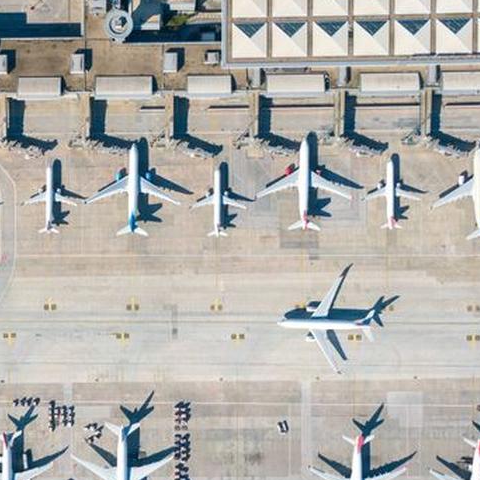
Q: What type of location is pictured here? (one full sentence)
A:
This looks like an airport.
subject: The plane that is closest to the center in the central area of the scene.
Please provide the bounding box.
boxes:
[189,168,246,236]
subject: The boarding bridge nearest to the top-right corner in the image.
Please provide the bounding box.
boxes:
[421,140,474,166]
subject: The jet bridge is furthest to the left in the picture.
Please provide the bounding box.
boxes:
[0,142,46,167]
